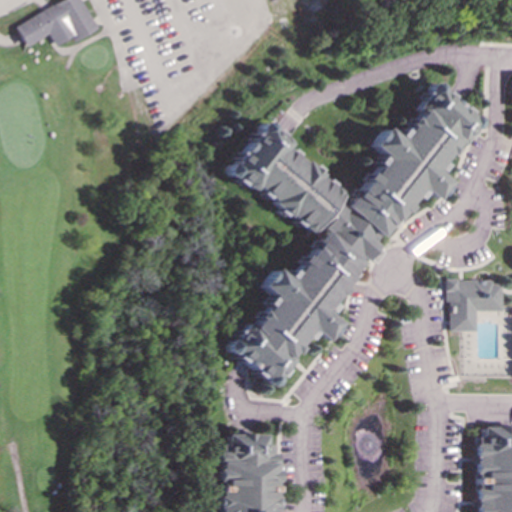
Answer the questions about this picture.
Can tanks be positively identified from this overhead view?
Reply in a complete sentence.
No, no tank can be seen from above.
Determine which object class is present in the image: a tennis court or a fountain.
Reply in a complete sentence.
Visible in the photo is a fountain.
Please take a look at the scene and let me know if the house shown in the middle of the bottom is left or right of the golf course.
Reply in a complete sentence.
Looking at the photo, the house shown in the middle of the bottom lies to the right of the golf course.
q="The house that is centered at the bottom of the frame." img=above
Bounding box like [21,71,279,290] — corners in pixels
[218,434,284,512]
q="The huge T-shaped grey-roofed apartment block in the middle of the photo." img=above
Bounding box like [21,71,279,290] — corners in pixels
[228,79,486,384]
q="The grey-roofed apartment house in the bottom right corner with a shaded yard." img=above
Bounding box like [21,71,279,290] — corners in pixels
[471,426,512,512]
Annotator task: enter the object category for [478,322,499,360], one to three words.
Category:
swimming pool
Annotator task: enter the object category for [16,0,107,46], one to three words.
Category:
building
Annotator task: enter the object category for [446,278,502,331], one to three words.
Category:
building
